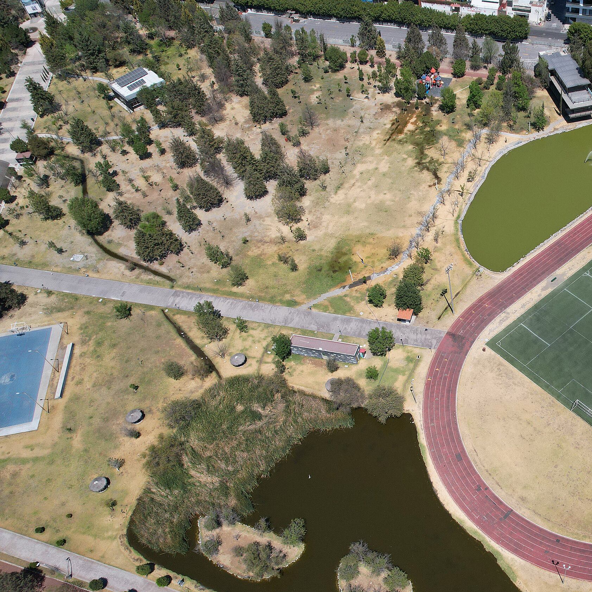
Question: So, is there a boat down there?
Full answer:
No, the scene contains no boat.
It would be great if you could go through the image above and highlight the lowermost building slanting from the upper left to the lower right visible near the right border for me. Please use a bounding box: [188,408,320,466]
[538,47,592,118]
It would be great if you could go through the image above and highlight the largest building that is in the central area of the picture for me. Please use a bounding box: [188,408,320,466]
[290,334,366,363]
